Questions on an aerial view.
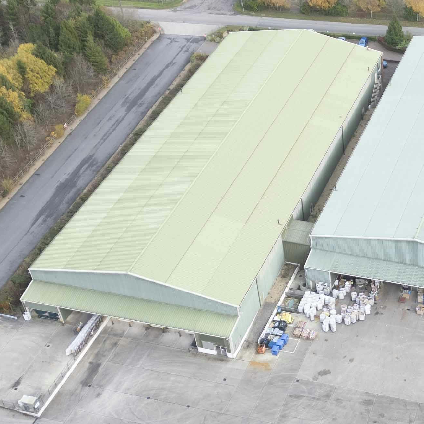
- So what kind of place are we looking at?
industrial area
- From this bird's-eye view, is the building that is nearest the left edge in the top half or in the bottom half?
bottom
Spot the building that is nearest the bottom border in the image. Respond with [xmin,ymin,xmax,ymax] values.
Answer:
[15,389,40,410]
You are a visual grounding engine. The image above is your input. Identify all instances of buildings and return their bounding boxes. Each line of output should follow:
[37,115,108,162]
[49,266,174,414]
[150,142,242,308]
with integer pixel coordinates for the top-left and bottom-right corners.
[15,389,40,410]
[20,25,384,359]
[302,34,424,306]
